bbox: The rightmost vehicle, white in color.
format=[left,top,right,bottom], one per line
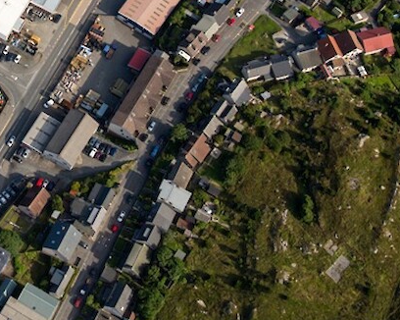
[356,63,368,79]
